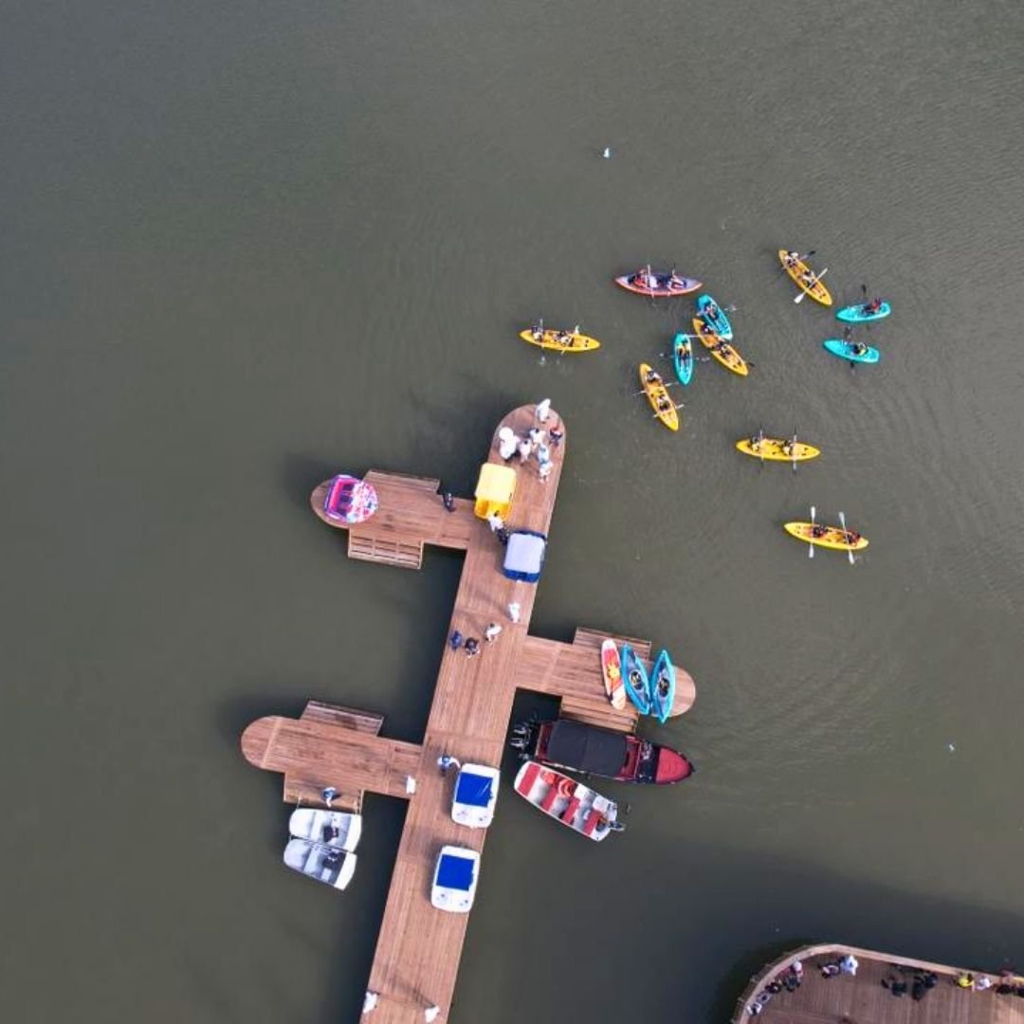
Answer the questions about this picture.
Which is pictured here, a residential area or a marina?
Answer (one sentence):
This looks like a marina.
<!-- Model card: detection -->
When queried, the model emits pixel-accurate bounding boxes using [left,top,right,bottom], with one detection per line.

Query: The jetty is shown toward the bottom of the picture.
[241,406,695,1024]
